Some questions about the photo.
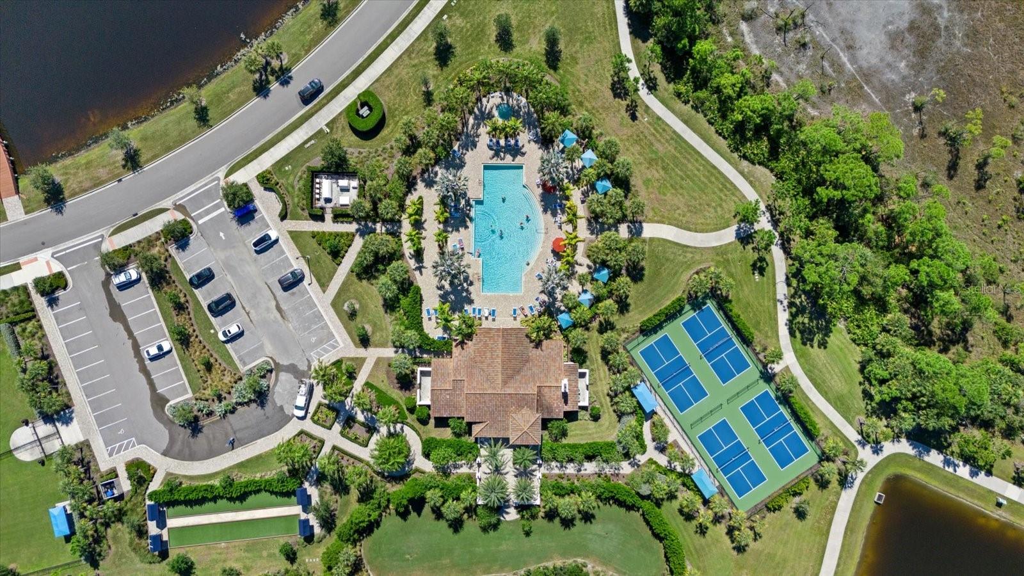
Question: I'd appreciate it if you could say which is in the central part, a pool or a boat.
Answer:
pool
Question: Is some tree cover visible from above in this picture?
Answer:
Yes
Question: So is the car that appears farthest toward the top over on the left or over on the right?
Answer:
left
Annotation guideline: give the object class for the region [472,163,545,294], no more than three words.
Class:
swimming pool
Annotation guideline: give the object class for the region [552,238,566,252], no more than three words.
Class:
umbrella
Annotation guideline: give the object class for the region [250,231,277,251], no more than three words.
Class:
car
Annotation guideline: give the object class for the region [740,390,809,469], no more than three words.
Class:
sports court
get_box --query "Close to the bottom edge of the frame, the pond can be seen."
[853,473,1024,576]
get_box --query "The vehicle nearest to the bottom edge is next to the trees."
[291,381,310,418]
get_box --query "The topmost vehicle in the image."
[296,79,323,101]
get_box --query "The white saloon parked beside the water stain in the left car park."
[141,342,170,358]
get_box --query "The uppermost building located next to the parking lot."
[417,326,588,445]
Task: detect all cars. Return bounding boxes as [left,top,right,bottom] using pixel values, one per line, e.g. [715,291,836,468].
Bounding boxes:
[141,342,170,358]
[250,231,277,251]
[296,79,323,101]
[275,269,304,289]
[229,202,256,219]
[216,323,243,340]
[206,294,234,314]
[109,269,139,287]
[187,267,213,285]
